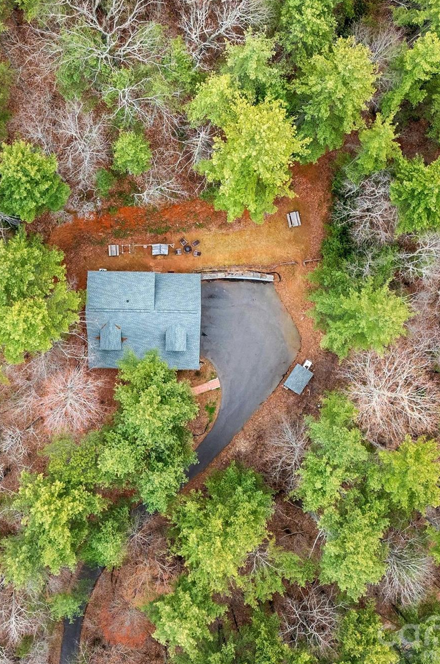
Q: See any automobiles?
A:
No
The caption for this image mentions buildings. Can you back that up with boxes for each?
[86,271,201,371]
[283,363,313,395]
